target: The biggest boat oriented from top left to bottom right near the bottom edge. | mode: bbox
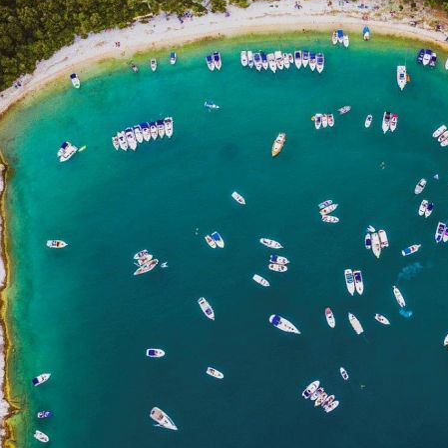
[149,406,177,432]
